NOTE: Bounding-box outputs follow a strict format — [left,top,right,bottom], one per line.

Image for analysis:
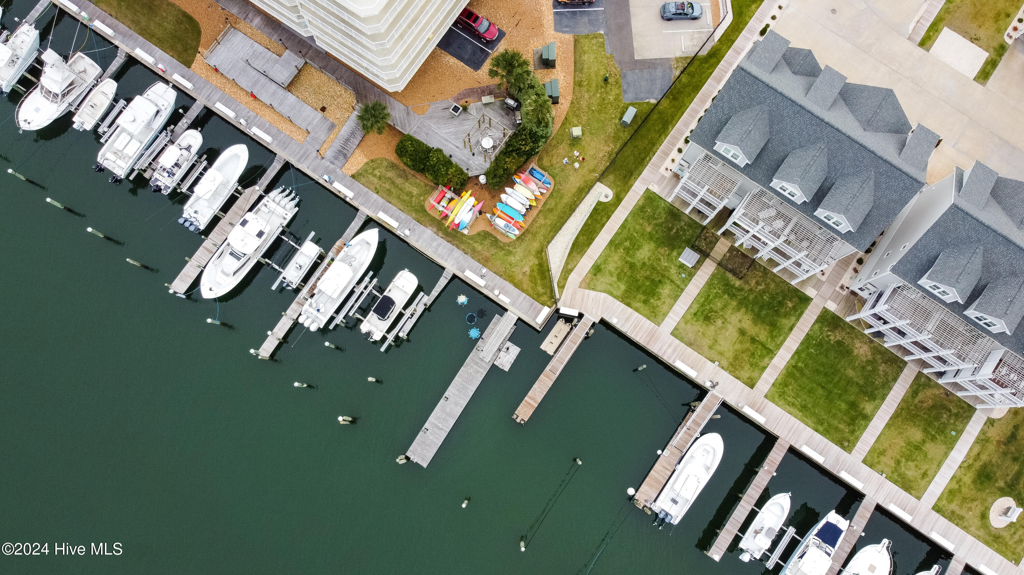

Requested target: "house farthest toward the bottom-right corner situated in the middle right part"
[847,156,1024,419]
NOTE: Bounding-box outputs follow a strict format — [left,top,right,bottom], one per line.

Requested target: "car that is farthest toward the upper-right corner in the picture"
[661,0,702,22]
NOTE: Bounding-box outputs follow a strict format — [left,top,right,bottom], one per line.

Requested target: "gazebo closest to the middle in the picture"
[463,106,512,165]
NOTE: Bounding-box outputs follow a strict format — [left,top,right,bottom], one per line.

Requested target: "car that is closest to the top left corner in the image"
[455,7,498,43]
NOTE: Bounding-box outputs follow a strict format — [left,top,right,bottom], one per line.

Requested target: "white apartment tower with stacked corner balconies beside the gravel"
[249,0,472,93]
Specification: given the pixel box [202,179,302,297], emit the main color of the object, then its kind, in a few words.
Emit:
white boat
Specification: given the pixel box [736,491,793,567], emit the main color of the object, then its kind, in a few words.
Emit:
white boat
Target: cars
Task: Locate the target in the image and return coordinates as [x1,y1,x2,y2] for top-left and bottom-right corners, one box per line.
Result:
[661,0,702,22]
[553,0,597,6]
[455,7,498,43]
